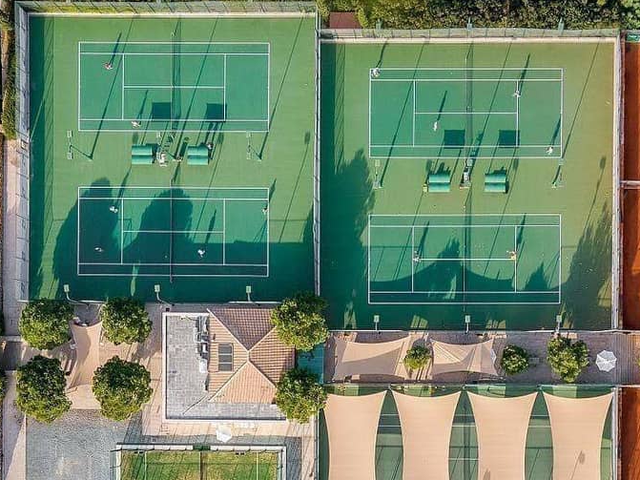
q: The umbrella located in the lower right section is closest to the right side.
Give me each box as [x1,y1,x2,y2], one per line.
[595,349,616,371]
